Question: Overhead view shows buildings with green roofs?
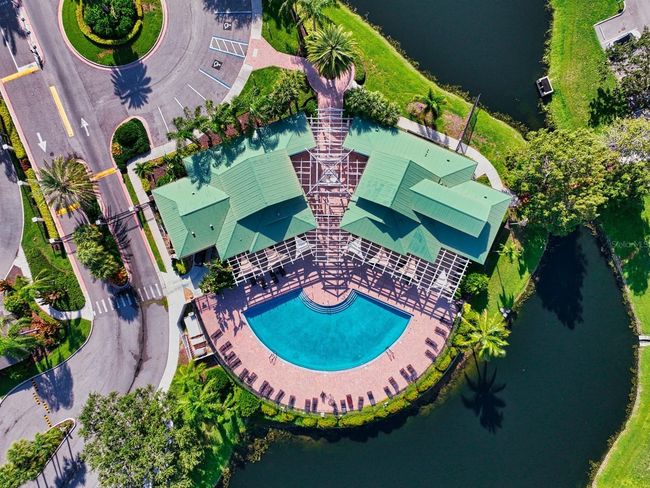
Yes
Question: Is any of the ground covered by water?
Yes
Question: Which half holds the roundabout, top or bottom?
top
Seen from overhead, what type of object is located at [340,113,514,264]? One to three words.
building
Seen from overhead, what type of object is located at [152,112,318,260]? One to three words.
building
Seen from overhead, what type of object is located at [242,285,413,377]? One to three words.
swimming pool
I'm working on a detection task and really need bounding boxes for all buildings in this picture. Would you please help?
[340,113,514,264]
[152,112,318,260]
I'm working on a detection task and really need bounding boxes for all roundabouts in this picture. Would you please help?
[57,0,166,71]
